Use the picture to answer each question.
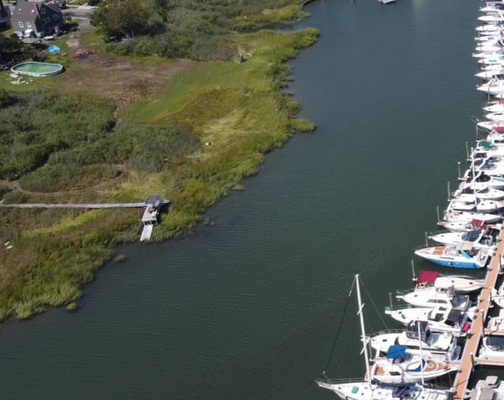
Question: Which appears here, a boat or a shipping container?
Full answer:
The one in the frame is a boat.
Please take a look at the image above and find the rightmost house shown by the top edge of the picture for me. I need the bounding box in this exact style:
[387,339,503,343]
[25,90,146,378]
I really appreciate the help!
[10,0,67,38]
